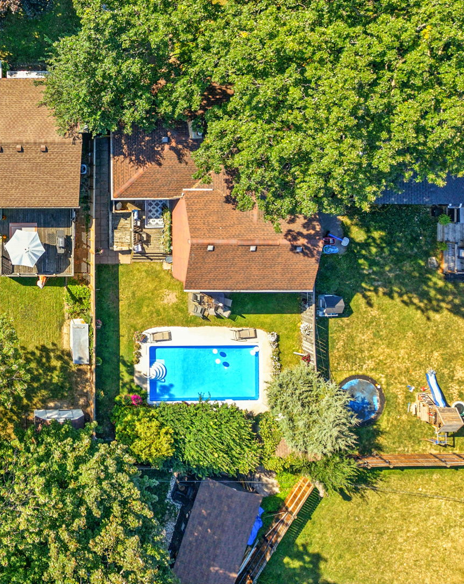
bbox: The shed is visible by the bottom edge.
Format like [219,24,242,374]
[165,464,263,584]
